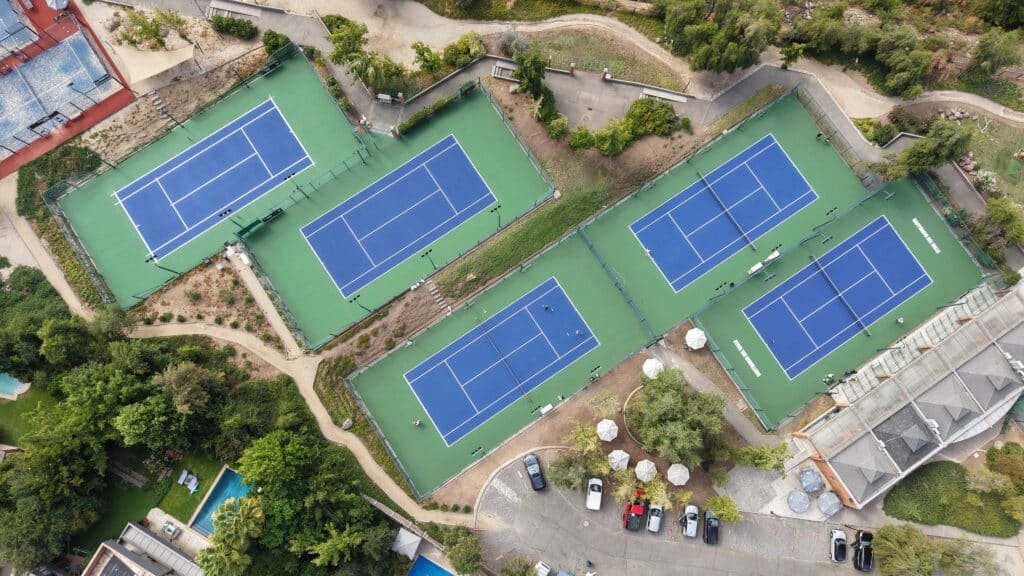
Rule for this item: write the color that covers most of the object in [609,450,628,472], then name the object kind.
white umbrella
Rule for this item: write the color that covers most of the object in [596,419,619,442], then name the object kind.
white umbrella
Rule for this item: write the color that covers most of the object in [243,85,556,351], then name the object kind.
green tennis court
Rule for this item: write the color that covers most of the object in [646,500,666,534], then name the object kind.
white car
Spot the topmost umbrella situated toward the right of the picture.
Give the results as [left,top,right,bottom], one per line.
[685,328,707,350]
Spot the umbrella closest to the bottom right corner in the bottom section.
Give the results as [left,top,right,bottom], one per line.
[816,494,839,516]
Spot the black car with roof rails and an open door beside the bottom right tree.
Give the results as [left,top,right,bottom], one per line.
[849,530,874,571]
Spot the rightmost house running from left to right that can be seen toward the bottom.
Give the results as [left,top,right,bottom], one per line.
[81,541,168,576]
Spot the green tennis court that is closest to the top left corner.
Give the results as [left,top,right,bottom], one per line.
[55,49,367,310]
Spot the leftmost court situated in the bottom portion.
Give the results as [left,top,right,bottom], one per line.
[349,231,657,500]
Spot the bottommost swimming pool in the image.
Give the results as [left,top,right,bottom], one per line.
[402,552,459,576]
